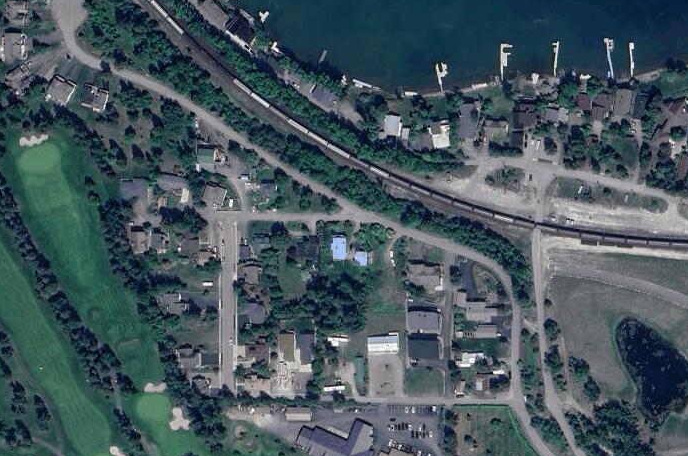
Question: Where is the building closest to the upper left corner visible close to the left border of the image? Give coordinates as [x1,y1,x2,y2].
[6,1,28,25]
